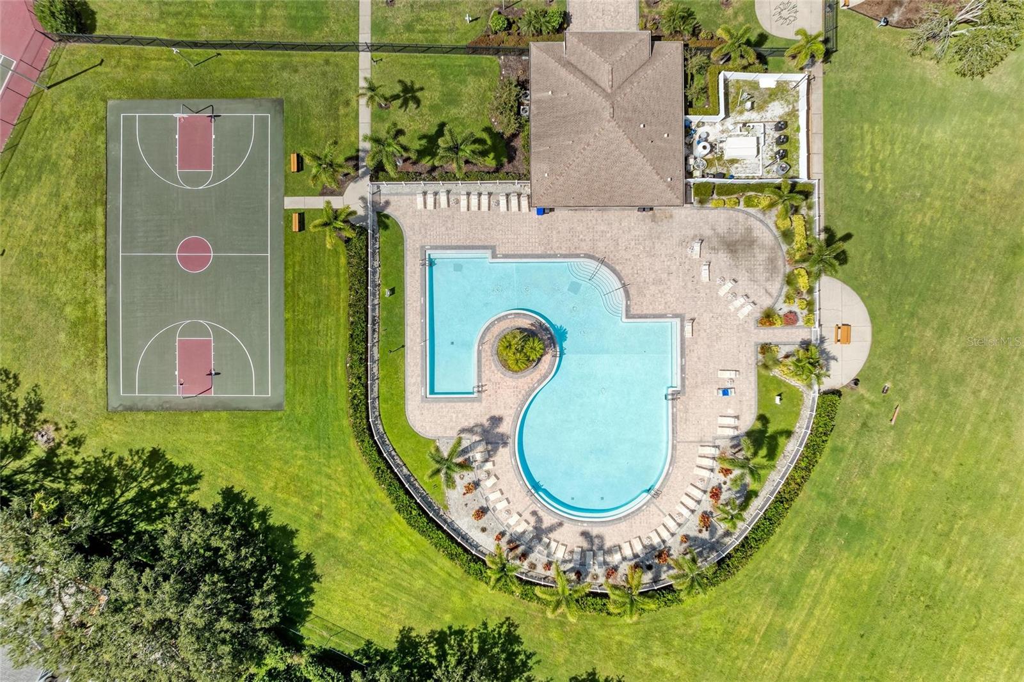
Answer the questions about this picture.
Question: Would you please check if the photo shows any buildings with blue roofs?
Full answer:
No, no building with a blue roof is visible in the scene.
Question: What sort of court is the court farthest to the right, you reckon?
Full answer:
Specifically, the court farthest to the right is a basketball court.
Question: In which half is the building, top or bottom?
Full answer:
You can find the building in the top half.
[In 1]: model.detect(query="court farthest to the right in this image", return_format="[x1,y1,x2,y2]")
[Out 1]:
[107,98,284,411]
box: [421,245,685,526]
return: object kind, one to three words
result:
swimming pool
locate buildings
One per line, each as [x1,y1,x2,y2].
[530,30,684,207]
